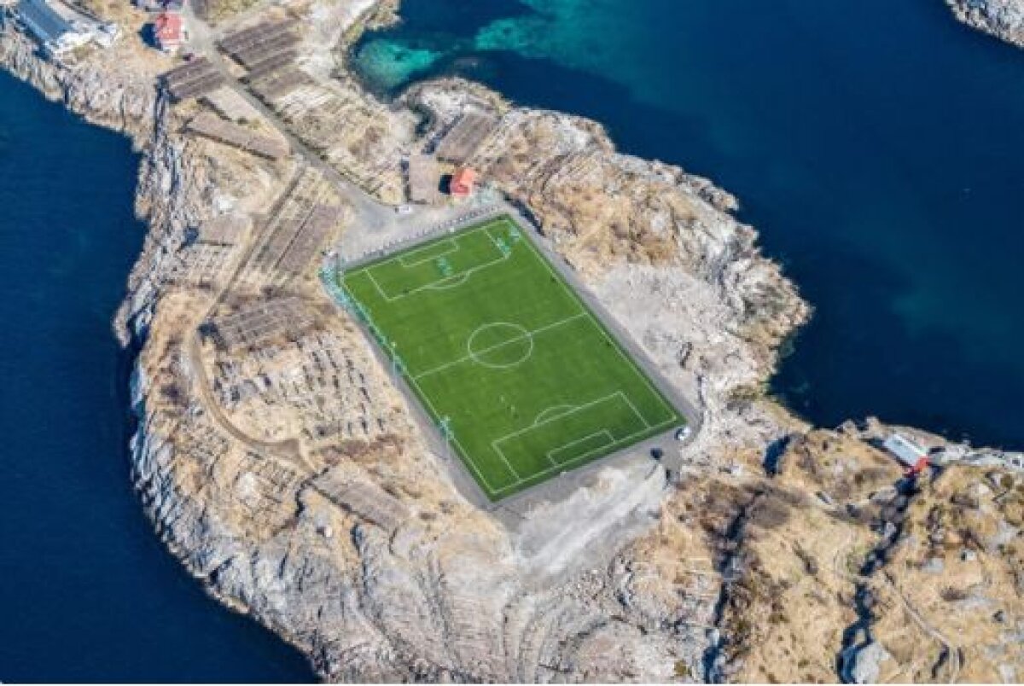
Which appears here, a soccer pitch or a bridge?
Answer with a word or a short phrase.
soccer pitch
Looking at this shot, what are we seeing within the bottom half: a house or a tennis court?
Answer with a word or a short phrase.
house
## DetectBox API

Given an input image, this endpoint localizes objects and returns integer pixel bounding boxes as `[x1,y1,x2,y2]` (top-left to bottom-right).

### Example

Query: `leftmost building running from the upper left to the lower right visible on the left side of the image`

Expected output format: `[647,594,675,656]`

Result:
[9,0,75,53]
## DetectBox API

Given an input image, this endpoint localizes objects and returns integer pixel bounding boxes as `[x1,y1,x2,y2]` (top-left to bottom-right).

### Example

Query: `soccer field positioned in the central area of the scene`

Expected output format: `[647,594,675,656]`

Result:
[335,215,687,503]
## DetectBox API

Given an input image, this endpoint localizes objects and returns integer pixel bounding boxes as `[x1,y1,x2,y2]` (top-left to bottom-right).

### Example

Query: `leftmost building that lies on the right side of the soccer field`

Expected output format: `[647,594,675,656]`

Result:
[882,429,938,472]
